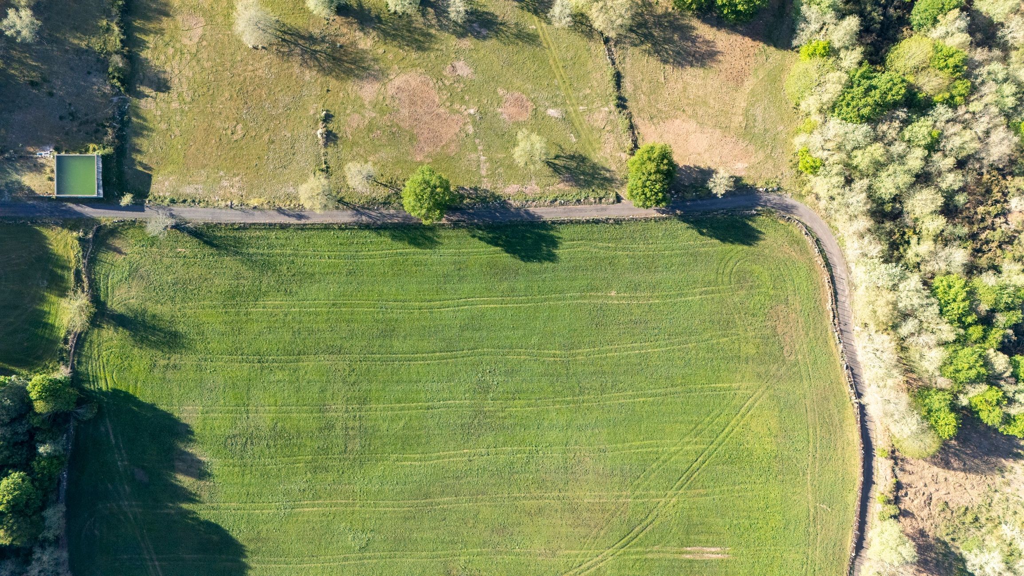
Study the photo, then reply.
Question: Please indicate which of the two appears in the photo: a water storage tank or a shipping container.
water storage tank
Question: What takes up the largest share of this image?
grass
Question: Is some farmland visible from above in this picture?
Yes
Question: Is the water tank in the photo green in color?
Yes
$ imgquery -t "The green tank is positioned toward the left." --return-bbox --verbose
[54,154,105,199]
